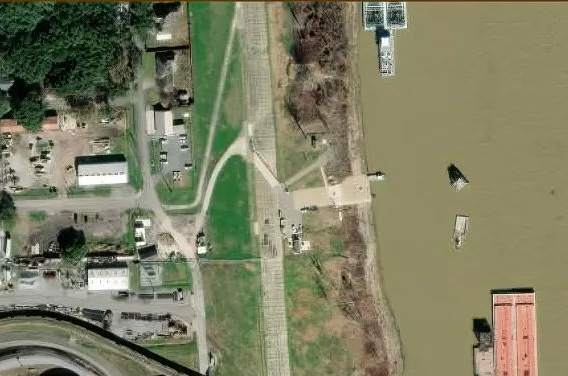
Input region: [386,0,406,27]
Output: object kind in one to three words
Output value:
ship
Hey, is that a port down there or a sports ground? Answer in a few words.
port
